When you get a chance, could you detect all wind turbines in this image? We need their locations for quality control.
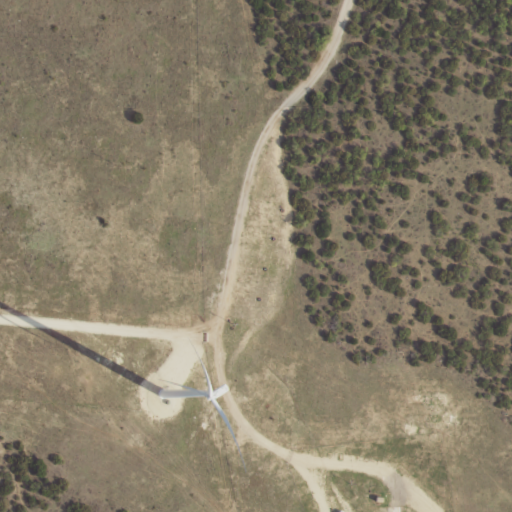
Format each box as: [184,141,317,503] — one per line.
[156,338,248,472]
